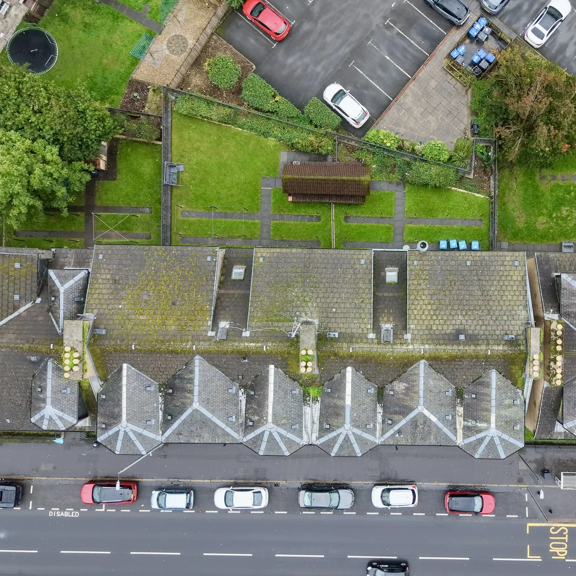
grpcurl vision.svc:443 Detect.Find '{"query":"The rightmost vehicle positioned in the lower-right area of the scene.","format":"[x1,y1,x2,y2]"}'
[444,490,497,517]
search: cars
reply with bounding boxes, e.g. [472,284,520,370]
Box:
[81,480,138,507]
[242,0,292,42]
[480,0,510,17]
[444,490,497,517]
[297,485,356,512]
[422,0,471,29]
[213,485,270,512]
[365,562,410,576]
[323,82,371,131]
[150,487,196,512]
[370,483,419,510]
[525,0,569,50]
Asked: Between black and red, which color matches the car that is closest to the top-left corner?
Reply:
red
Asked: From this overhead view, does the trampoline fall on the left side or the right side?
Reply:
left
